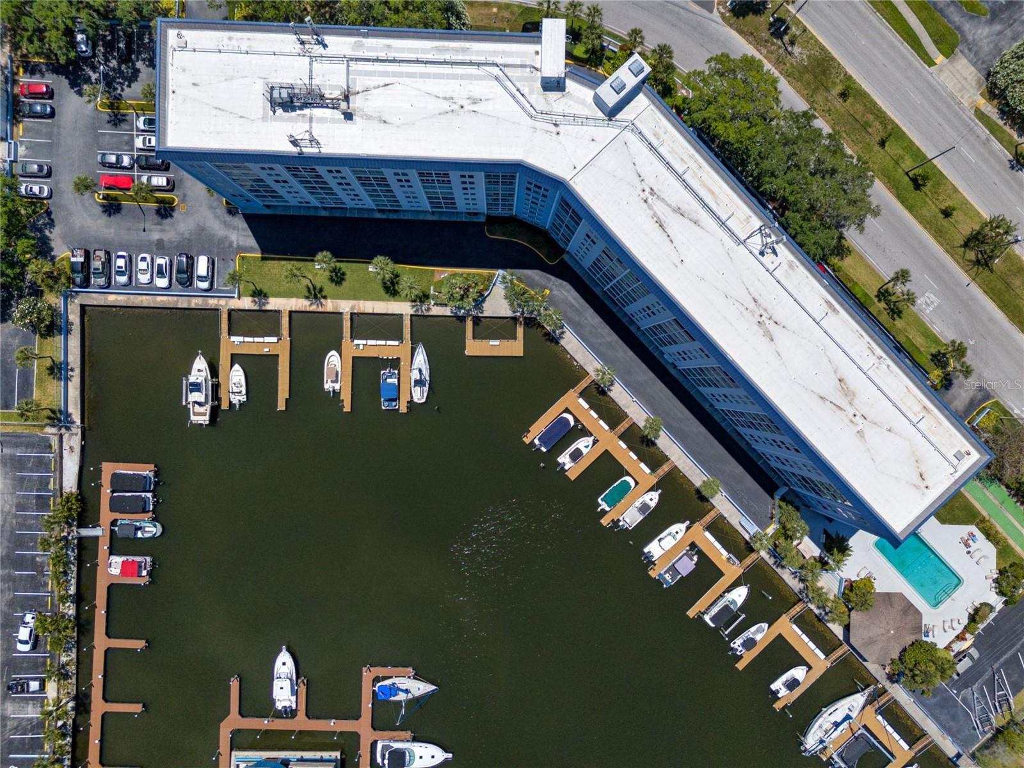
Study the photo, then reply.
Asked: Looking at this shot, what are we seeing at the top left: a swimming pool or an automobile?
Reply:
automobile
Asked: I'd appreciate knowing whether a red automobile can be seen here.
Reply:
Yes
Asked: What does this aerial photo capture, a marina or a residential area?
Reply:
marina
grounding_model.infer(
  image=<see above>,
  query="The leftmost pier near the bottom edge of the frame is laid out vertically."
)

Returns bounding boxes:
[88,461,155,768]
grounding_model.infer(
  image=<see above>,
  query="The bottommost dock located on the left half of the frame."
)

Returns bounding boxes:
[219,665,413,768]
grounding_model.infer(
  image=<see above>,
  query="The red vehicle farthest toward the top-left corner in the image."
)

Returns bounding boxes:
[17,80,54,100]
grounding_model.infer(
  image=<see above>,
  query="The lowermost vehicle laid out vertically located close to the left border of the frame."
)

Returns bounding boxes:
[13,609,38,654]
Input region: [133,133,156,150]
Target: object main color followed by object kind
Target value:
white car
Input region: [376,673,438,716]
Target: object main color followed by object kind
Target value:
white boat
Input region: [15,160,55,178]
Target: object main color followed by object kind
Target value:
gray car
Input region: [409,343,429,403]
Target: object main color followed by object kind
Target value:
white boat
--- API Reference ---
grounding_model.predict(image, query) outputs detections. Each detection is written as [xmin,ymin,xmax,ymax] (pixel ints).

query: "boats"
[112,519,162,538]
[729,625,771,654]
[184,350,211,430]
[409,343,429,403]
[767,667,812,697]
[900,763,920,768]
[106,556,161,580]
[231,745,343,768]
[799,690,885,768]
[705,573,751,628]
[656,544,699,587]
[376,738,449,768]
[619,489,662,528]
[535,414,583,451]
[598,465,635,510]
[108,471,163,493]
[107,493,163,515]
[324,346,342,397]
[376,673,438,716]
[270,648,295,716]
[377,357,403,410]
[228,361,246,407]
[641,521,694,564]
[557,431,594,469]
